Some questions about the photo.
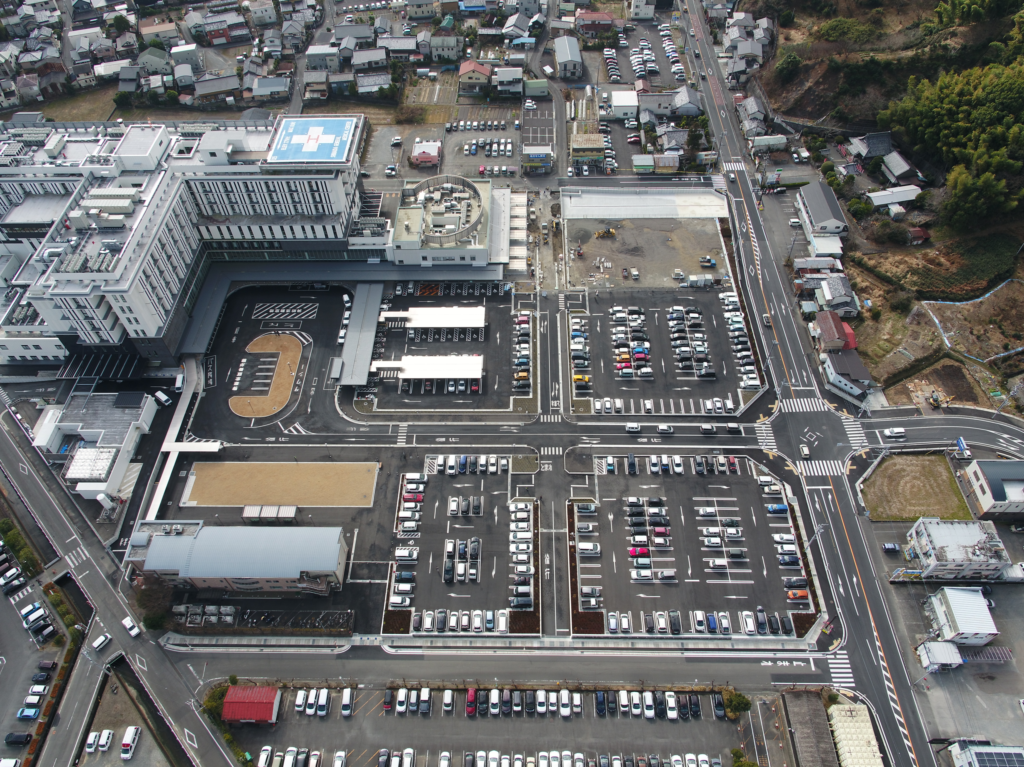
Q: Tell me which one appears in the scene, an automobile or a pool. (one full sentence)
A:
Looking from above, you can make out an automobile.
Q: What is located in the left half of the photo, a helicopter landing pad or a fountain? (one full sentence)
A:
The feature located in the left half of the photo is a helicopter landing pad.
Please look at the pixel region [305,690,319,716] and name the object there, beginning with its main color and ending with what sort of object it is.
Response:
white car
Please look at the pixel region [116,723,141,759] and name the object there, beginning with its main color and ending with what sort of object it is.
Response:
white vehicle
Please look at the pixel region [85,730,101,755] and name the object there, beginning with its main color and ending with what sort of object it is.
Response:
white car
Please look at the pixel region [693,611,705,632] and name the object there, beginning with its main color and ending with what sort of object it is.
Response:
white vehicle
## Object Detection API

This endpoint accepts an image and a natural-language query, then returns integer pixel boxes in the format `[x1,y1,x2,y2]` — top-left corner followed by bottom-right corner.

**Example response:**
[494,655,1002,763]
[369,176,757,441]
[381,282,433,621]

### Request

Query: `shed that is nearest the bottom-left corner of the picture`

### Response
[221,686,280,723]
